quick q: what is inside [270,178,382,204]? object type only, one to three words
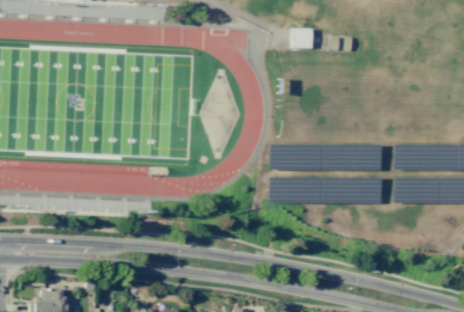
solar array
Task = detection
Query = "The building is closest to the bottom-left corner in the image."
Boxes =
[36,289,68,312]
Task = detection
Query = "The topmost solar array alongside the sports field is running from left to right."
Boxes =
[270,145,382,170]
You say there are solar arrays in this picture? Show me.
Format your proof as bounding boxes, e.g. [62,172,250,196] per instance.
[270,145,382,170]
[270,178,382,204]
[394,145,464,170]
[394,178,464,204]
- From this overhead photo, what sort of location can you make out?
sports ground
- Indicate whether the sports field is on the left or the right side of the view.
left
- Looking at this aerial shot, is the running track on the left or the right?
left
